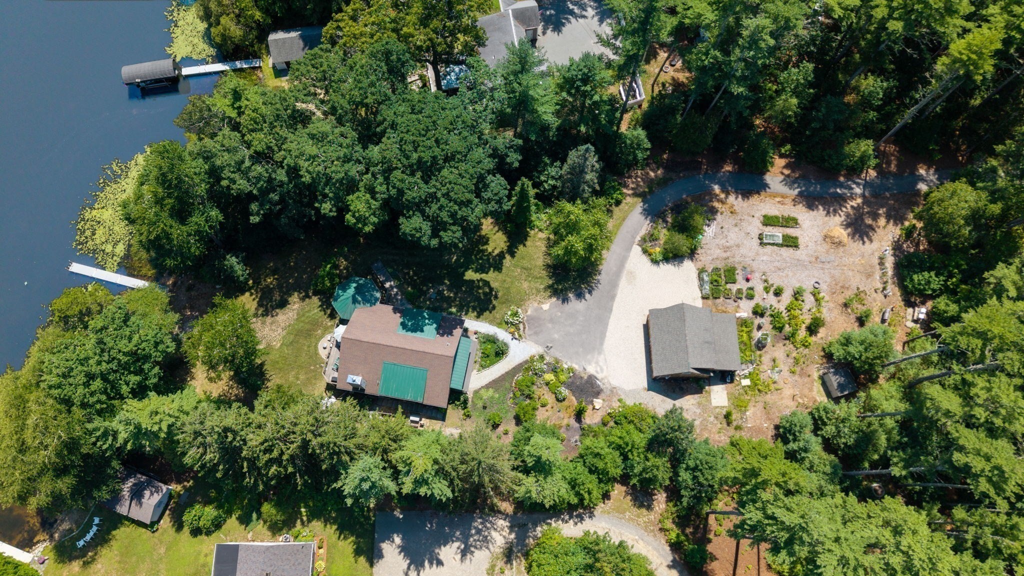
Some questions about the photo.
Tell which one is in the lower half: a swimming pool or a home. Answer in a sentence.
You can see a home in the lower half.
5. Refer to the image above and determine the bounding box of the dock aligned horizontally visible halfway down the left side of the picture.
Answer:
[60,261,171,295]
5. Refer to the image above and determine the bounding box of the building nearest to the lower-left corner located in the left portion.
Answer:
[104,468,175,523]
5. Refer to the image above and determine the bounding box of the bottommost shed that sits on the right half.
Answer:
[813,367,857,400]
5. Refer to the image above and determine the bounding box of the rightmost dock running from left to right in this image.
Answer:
[181,58,261,74]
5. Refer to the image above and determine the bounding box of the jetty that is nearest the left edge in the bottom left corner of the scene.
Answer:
[0,535,34,565]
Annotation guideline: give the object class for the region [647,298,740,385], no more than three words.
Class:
building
